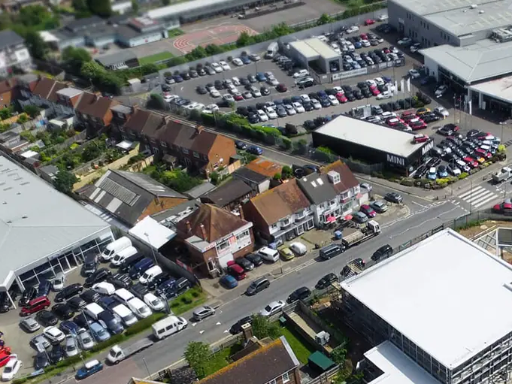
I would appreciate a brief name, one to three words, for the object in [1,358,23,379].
car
